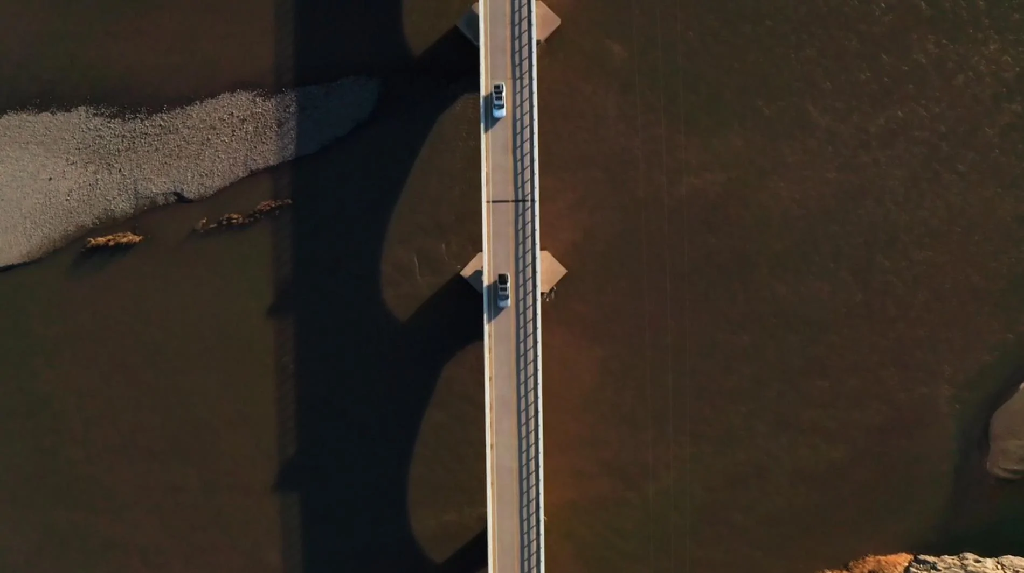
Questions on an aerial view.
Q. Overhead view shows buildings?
No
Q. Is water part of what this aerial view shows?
Yes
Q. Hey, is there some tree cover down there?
No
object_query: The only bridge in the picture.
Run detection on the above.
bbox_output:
[454,0,566,573]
